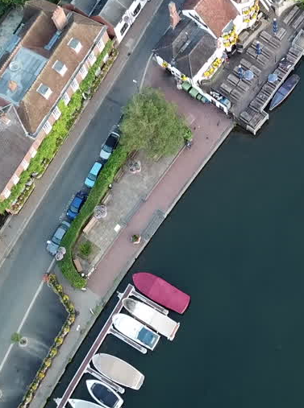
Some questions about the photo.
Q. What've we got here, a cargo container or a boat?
boat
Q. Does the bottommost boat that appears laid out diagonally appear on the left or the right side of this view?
left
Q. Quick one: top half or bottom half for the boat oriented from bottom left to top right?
top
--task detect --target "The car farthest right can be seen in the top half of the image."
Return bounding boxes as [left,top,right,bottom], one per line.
[97,129,119,159]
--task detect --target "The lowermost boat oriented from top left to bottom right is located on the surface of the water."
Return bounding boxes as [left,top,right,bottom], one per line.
[86,380,125,408]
